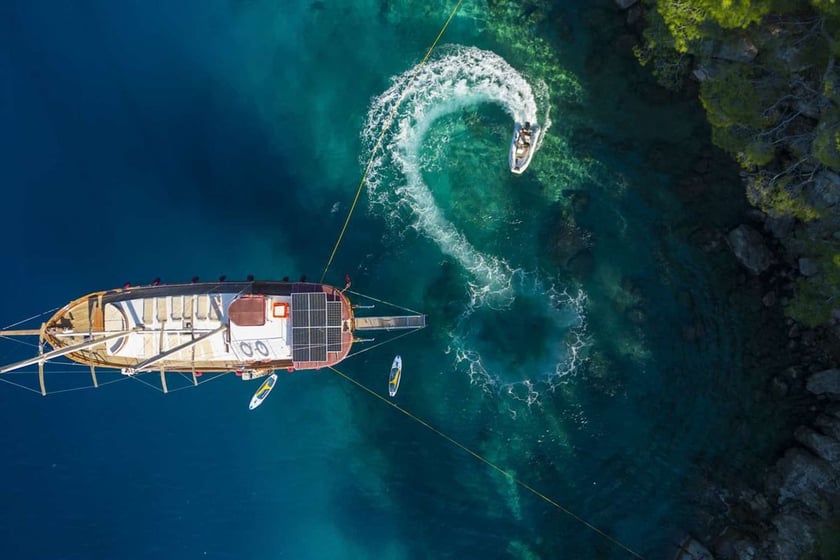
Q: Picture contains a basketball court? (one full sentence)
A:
No, the picture doesn't show any basketball court.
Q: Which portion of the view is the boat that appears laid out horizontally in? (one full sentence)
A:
The boat that appears laid out horizontally is in the left part of the image.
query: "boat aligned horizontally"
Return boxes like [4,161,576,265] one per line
[0,275,427,396]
